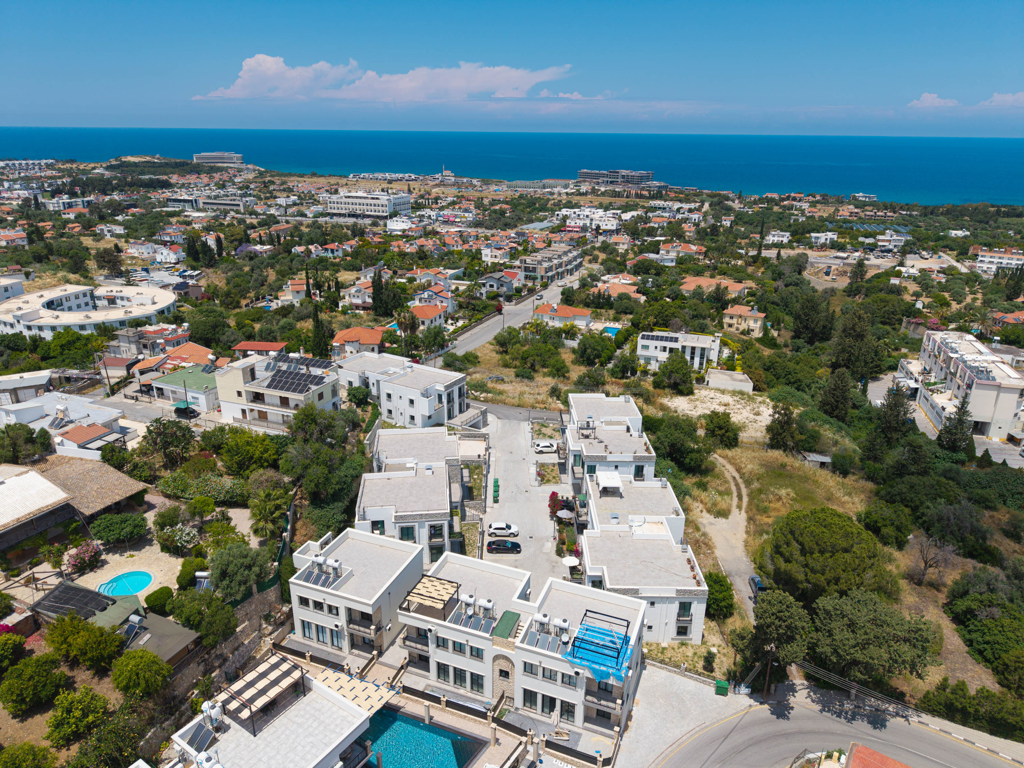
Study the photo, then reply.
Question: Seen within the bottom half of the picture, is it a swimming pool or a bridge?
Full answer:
Looking within the bottom half of the picture, you will find a swimming pool.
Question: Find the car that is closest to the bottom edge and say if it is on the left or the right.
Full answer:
The car that is closest to the bottom edge appears in the right half of the scene.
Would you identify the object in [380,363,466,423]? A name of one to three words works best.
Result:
house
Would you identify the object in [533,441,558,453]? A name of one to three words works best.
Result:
vehicle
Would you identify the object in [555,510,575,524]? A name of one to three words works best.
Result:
umbrella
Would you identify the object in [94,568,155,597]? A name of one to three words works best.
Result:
swimming pool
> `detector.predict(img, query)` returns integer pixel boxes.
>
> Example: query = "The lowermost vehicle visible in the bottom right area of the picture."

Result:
[745,573,772,595]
